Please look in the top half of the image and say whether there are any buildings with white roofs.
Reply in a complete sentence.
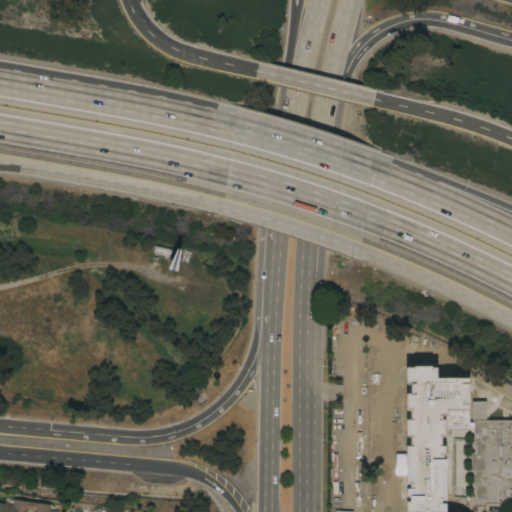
No, no building with a white roof appears in the top half of the image.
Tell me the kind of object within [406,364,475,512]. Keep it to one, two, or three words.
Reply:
building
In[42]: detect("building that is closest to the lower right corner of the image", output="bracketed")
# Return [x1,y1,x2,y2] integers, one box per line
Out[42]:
[473,421,512,508]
